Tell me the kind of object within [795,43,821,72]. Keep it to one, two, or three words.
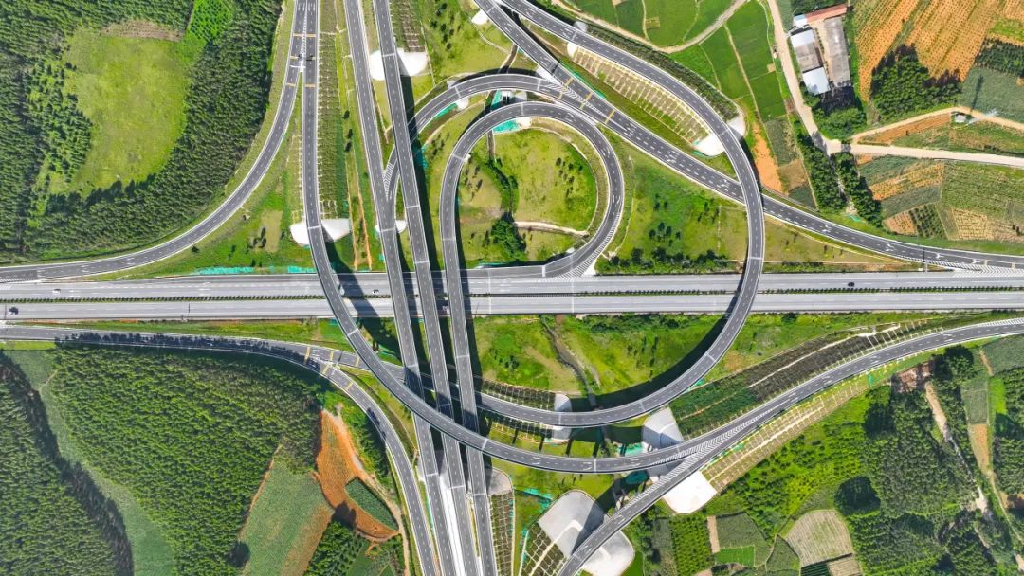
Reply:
shed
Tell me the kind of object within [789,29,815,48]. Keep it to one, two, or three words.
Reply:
shed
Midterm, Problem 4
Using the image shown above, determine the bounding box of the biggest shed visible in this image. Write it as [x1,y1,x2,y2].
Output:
[823,17,850,86]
